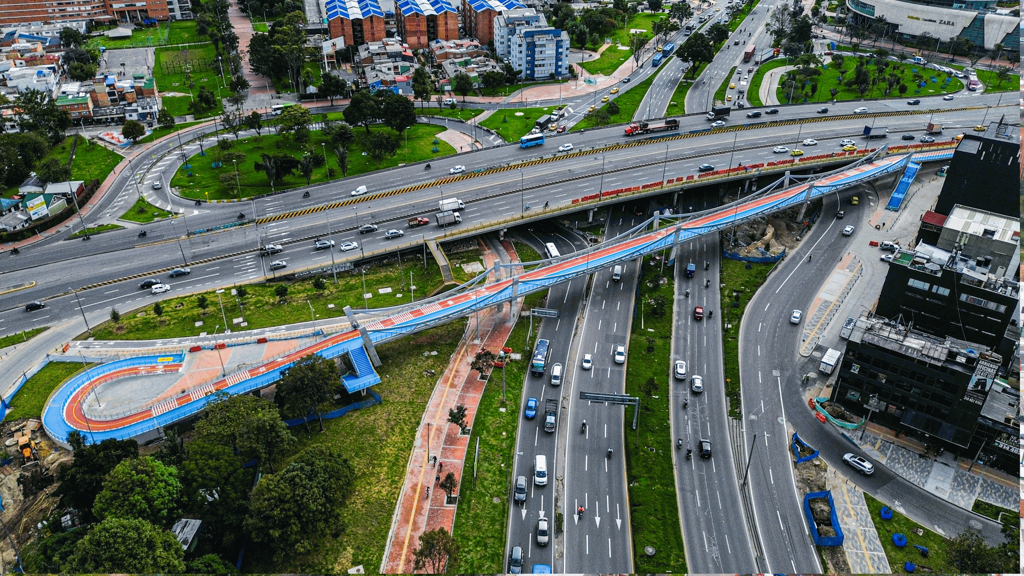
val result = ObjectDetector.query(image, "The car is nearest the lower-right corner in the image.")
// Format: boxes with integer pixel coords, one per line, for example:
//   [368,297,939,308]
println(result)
[842,452,877,474]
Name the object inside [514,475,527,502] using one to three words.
vehicle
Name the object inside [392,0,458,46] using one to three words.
building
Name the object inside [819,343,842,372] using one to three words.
truck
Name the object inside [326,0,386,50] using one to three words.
building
